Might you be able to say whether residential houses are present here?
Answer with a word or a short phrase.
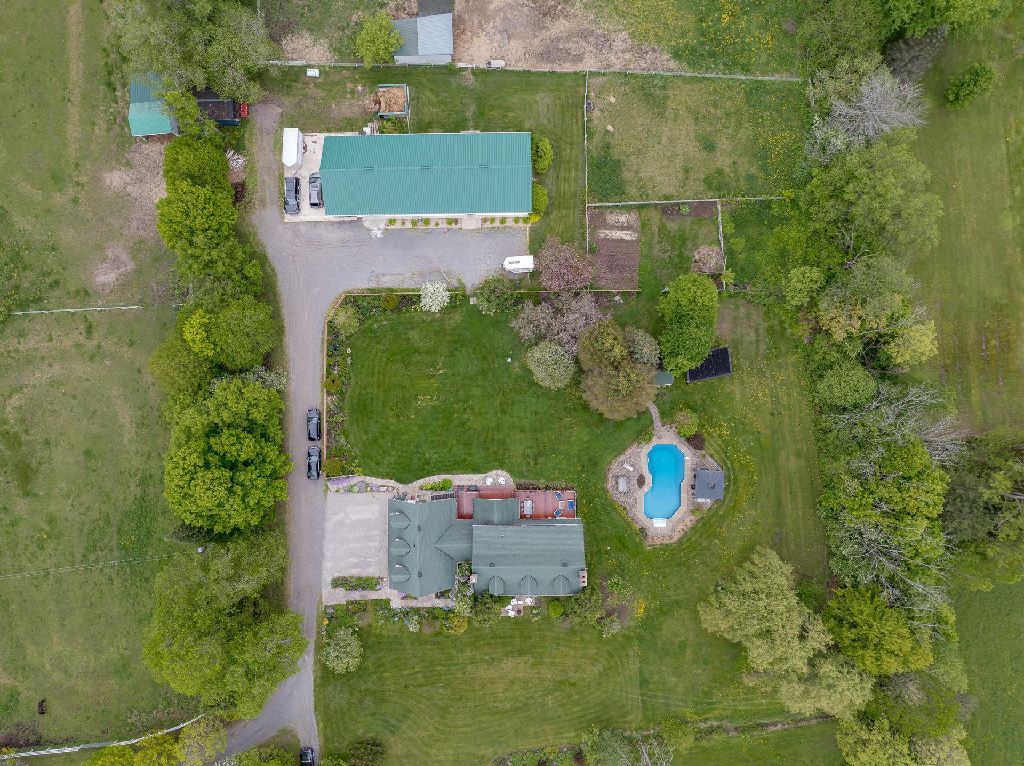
Yes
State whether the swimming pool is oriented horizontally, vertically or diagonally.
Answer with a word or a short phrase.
vertically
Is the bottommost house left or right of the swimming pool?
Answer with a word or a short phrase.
on its left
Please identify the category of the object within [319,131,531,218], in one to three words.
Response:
barn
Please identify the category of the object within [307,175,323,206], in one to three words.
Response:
car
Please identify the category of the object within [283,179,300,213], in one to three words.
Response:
car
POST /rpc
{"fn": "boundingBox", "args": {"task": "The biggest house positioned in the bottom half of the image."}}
[387,498,592,597]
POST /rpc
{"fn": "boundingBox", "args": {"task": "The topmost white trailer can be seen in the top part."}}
[283,128,304,179]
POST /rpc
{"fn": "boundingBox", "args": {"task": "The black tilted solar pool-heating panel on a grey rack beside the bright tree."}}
[685,347,732,382]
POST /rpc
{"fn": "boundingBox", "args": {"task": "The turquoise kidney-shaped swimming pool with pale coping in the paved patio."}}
[643,444,688,527]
